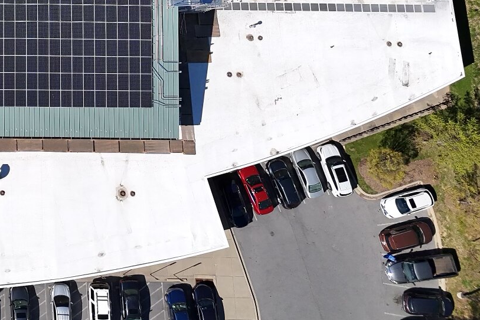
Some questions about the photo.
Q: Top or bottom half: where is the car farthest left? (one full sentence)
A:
You can find the car farthest left in the bottom half.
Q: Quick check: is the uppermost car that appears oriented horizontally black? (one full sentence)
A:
No, the color of the uppermost car that appears oriented horizontally is white.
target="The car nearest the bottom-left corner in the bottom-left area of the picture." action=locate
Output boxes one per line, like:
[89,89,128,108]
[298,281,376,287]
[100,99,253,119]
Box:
[9,287,33,320]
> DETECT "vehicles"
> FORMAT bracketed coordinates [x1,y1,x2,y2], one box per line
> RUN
[401,290,457,318]
[268,159,302,209]
[88,280,114,320]
[9,287,33,320]
[165,287,191,320]
[293,149,325,198]
[239,168,271,215]
[379,189,439,216]
[384,256,468,285]
[51,283,74,320]
[378,221,438,250]
[222,175,251,225]
[120,279,144,320]
[320,143,356,198]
